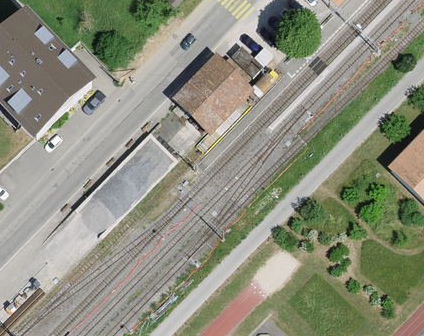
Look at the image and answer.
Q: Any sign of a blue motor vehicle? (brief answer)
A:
Yes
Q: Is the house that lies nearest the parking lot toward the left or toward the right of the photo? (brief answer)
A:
left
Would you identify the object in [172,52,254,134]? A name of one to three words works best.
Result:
house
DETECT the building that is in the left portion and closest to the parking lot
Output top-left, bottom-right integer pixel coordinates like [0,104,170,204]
[0,5,97,143]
